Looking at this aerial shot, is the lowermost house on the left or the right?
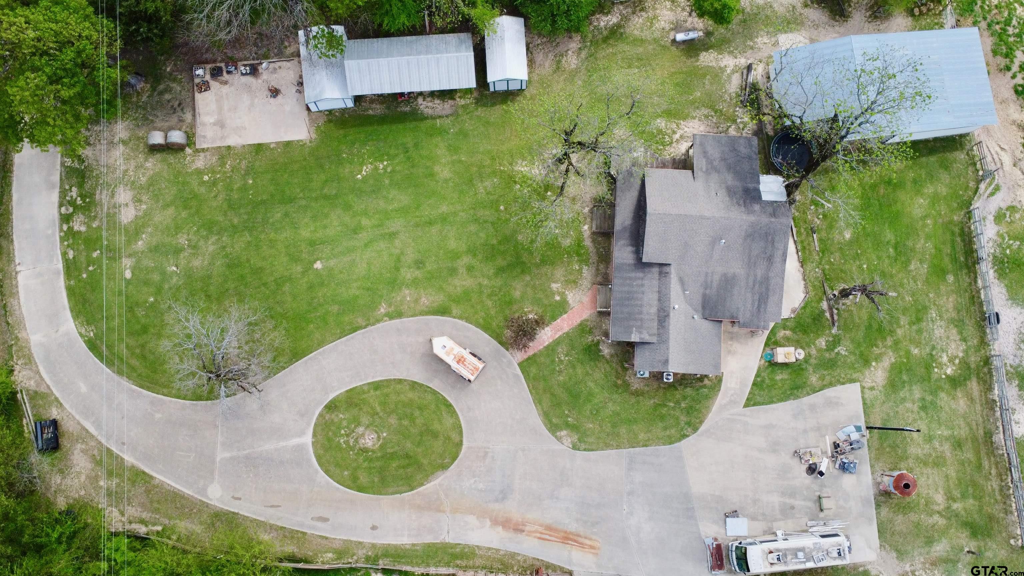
right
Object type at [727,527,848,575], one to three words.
camper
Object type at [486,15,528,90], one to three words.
shed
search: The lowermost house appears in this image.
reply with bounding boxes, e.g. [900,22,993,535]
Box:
[591,133,792,376]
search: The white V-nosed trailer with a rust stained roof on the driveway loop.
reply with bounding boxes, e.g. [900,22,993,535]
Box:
[428,334,488,381]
